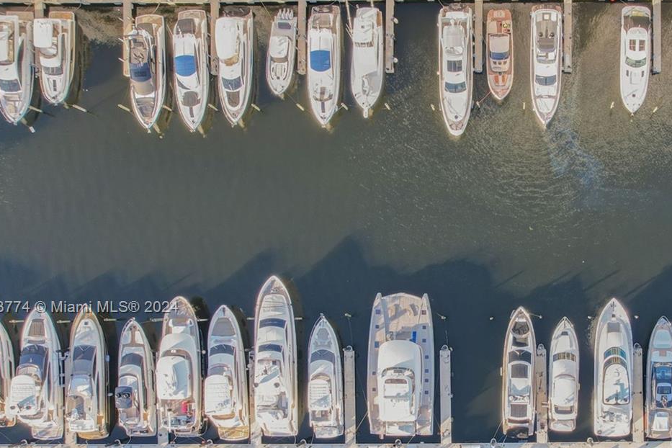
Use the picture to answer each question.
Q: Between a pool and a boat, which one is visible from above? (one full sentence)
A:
This aerial view contains a boat.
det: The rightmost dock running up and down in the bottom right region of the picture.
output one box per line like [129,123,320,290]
[633,348,645,441]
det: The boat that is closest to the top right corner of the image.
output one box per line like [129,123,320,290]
[612,0,654,115]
